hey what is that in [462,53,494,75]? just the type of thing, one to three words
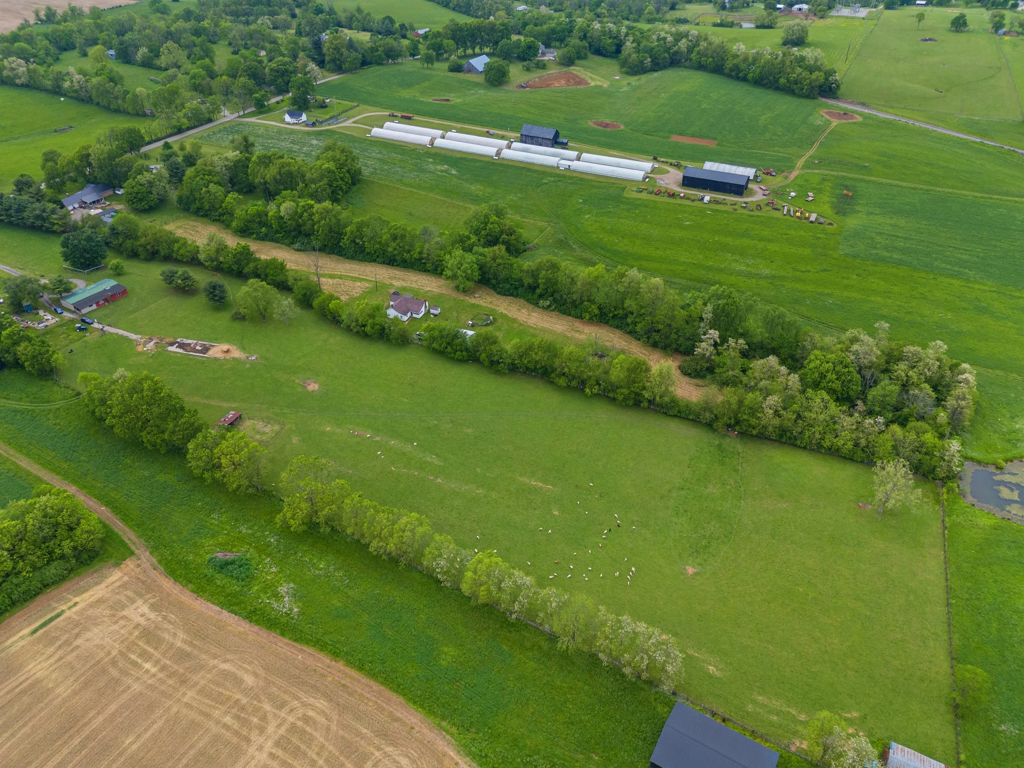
barn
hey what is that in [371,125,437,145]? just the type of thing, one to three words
greenhouse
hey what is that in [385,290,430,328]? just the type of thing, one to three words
house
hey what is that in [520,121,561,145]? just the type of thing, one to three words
barn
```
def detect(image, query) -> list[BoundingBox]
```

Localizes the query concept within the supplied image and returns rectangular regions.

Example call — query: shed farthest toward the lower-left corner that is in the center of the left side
[213,405,244,430]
